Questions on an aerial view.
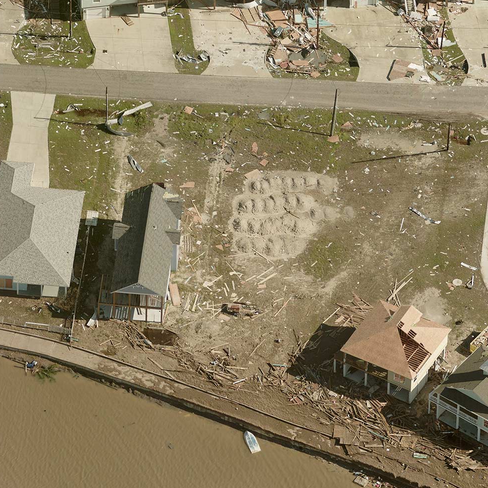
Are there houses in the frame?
Yes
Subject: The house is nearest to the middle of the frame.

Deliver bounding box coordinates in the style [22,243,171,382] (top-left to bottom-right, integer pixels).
[99,178,184,325]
